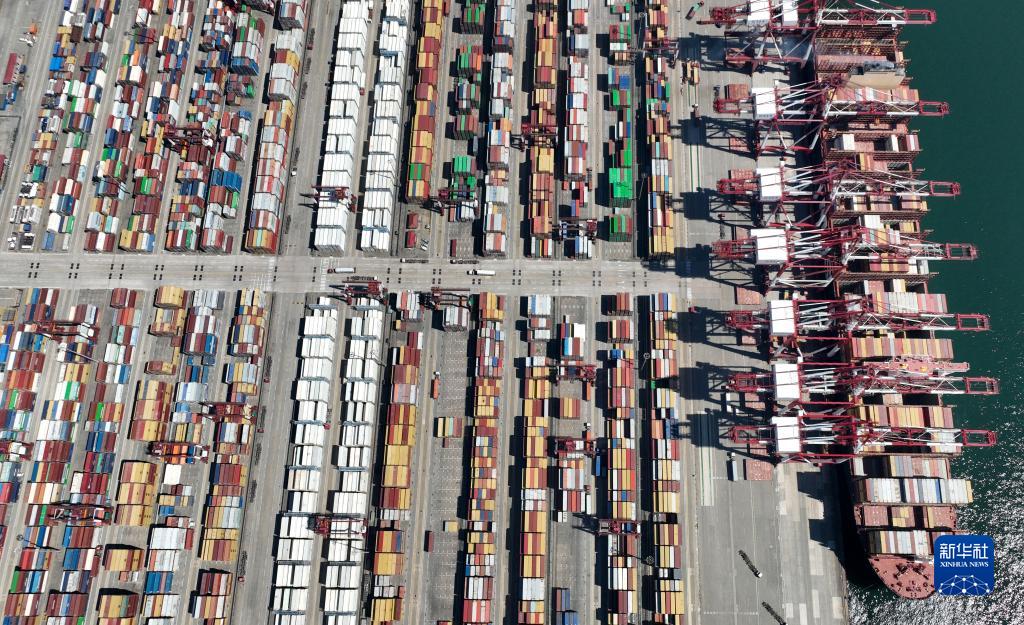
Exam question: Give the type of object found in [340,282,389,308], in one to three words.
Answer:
container crane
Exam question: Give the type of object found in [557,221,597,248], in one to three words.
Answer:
container crane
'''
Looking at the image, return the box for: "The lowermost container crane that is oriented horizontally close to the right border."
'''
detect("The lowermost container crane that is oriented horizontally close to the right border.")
[725,411,998,472]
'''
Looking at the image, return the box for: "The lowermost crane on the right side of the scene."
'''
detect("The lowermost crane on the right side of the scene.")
[596,518,642,540]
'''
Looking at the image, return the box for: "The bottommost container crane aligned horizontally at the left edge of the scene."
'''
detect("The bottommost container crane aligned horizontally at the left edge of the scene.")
[51,505,116,527]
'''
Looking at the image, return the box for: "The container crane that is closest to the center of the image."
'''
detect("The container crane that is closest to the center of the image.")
[430,289,474,315]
